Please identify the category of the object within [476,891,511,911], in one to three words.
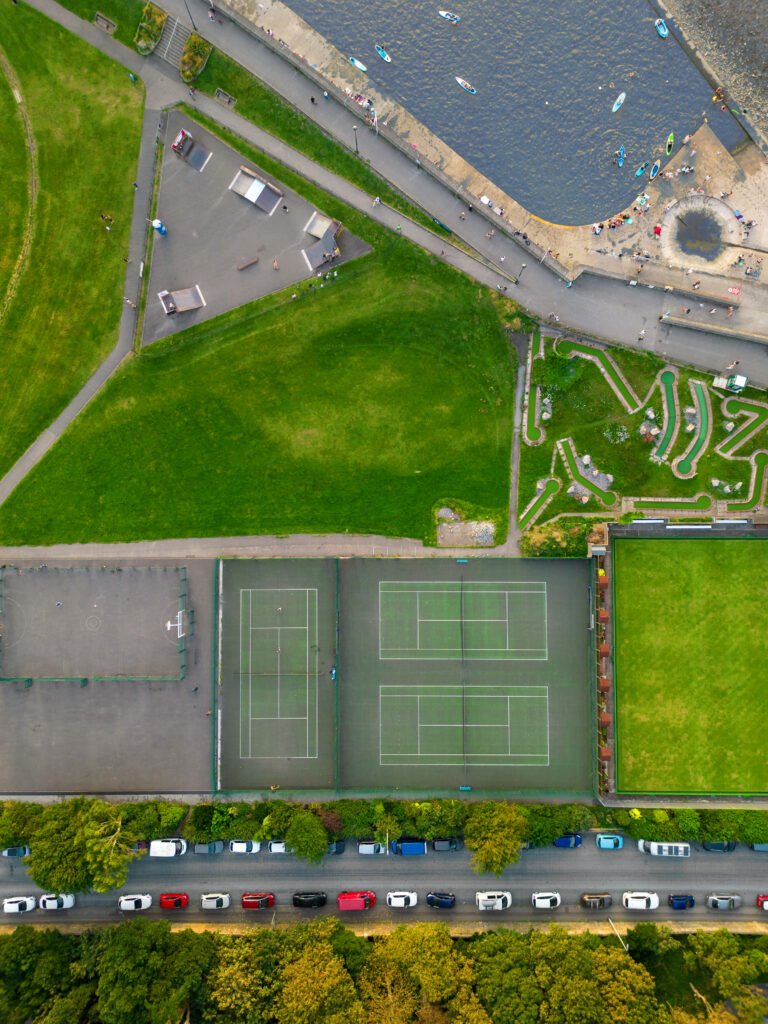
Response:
vehicle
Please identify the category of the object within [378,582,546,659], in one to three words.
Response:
tennis court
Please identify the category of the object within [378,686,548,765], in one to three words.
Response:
tennis court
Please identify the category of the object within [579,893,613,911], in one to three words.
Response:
car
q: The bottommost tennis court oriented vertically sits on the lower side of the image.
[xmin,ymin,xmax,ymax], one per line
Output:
[240,589,318,758]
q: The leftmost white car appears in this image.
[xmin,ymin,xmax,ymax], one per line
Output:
[3,895,35,913]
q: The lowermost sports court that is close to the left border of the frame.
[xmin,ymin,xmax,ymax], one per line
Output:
[4,570,186,676]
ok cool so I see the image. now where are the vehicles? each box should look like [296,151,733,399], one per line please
[1,842,28,860]
[749,839,768,854]
[268,838,293,855]
[160,893,188,909]
[702,836,736,853]
[431,835,467,854]
[120,893,151,911]
[595,833,625,850]
[624,891,657,909]
[293,891,326,909]
[3,895,35,913]
[554,836,583,851]
[193,840,224,856]
[667,893,695,910]
[41,892,76,910]
[357,839,386,856]
[320,839,349,856]
[149,838,187,856]
[202,893,229,910]
[637,841,691,860]
[242,892,276,910]
[230,838,260,855]
[391,837,427,856]
[426,891,455,909]
[531,891,560,909]
[387,891,417,908]
[476,891,511,911]
[706,892,741,910]
[579,893,613,911]
[338,891,374,910]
